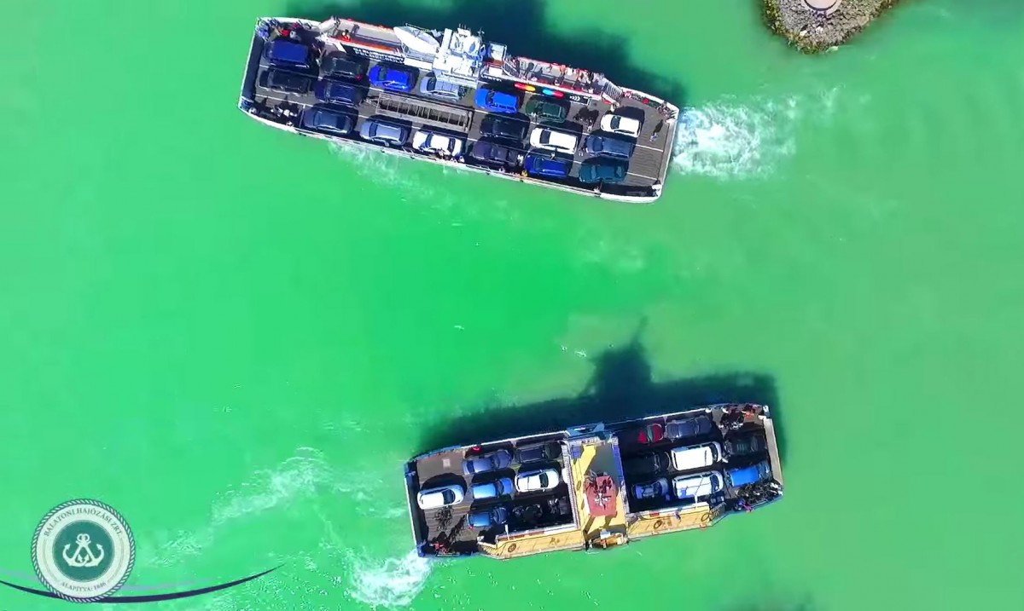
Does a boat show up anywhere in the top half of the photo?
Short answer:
Yes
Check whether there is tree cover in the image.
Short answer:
No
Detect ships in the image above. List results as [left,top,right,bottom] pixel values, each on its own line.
[408,402,784,566]
[242,15,680,202]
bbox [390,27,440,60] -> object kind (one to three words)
boat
